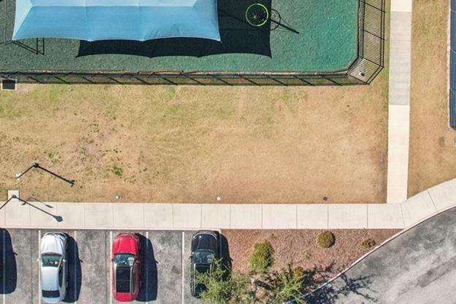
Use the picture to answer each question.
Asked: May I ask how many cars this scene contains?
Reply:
3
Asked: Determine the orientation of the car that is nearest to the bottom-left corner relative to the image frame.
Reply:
from top to bottom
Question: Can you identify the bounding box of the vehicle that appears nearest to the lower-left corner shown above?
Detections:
[34,230,67,299]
